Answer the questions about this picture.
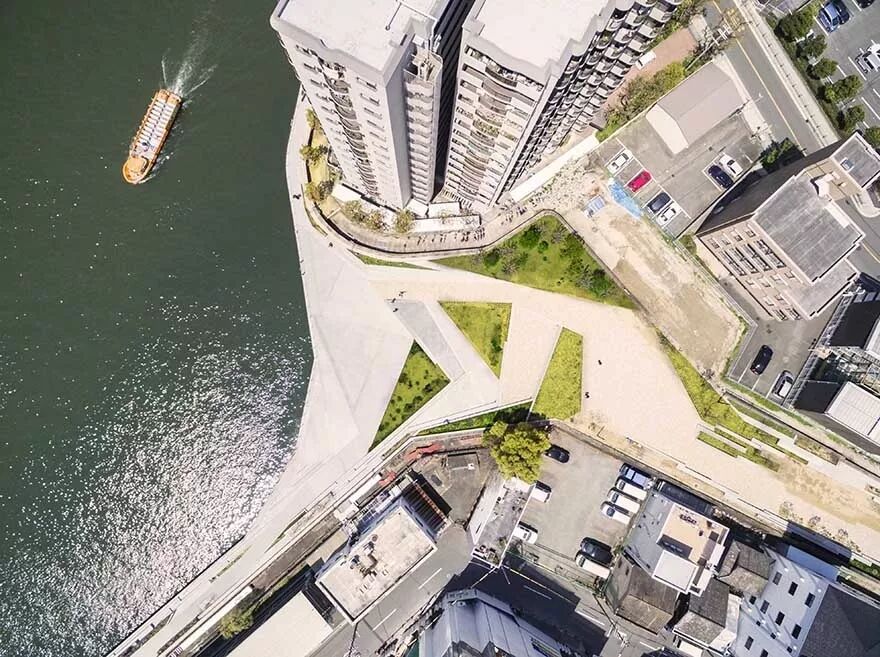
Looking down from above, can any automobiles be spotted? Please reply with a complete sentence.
Yes, this view includes an automobile.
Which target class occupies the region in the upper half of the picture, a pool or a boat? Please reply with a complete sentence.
Visible in the upper half of the picture is a boat.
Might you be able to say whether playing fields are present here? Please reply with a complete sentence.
No, I find no playing field anywhere in the image.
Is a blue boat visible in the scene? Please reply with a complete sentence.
No, I find no blue boat anywhere in the image.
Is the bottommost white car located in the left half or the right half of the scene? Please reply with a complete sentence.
You can find the bottommost white car on the right side of the picture.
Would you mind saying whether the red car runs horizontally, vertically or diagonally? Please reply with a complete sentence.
Seen from above, the red car lies diagonally.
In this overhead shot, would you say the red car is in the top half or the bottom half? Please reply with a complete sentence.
Seen from above, the red car lies in the top half of the view.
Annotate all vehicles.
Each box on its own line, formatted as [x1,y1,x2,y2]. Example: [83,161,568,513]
[645,192,671,214]
[581,539,612,562]
[634,51,657,70]
[816,3,840,31]
[545,445,571,464]
[601,503,632,525]
[626,170,652,193]
[607,490,640,512]
[706,165,732,191]
[718,154,743,179]
[829,0,853,24]
[614,478,647,499]
[655,203,681,226]
[618,465,651,488]
[772,371,795,398]
[532,484,552,502]
[854,50,879,78]
[749,345,773,374]
[514,525,536,544]
[577,554,607,576]
[607,150,633,175]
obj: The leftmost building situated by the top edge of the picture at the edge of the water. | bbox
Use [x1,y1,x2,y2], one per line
[266,0,476,208]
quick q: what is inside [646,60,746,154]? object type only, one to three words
building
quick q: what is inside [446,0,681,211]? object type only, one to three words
building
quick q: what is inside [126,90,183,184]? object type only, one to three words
boat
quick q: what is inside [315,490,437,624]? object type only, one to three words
house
